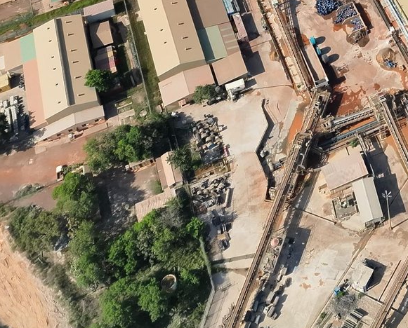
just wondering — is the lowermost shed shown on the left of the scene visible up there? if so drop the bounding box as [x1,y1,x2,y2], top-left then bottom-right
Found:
[134,186,181,218]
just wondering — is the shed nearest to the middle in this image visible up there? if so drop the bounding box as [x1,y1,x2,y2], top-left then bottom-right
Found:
[160,155,179,189]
